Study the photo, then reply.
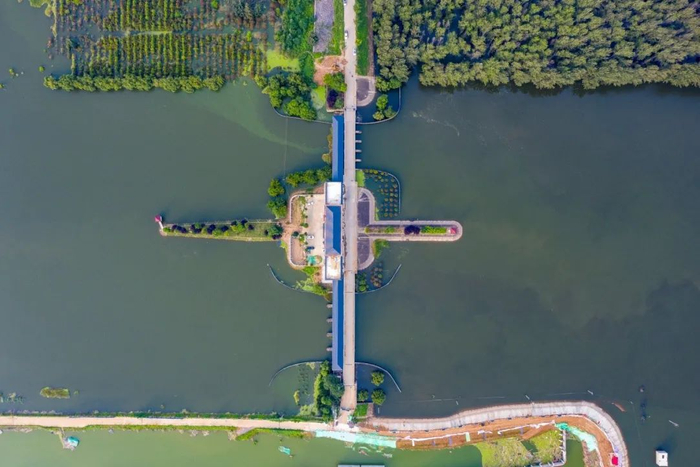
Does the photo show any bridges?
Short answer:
Yes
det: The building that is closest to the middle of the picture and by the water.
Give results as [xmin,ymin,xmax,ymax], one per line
[323,180,344,282]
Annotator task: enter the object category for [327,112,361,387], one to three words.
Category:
bridge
